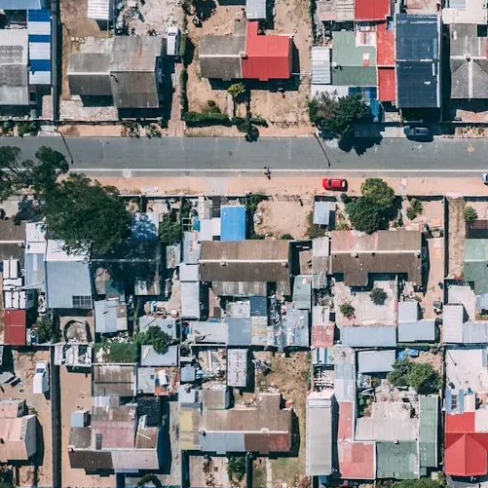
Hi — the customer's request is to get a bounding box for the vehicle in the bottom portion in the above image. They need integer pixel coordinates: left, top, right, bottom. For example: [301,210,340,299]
[29,364,46,392]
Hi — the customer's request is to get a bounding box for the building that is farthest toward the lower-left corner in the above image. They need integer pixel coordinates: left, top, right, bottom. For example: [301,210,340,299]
[0,398,37,460]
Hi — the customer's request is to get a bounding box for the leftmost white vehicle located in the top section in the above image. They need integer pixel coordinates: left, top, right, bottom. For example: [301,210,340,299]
[163,27,178,54]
